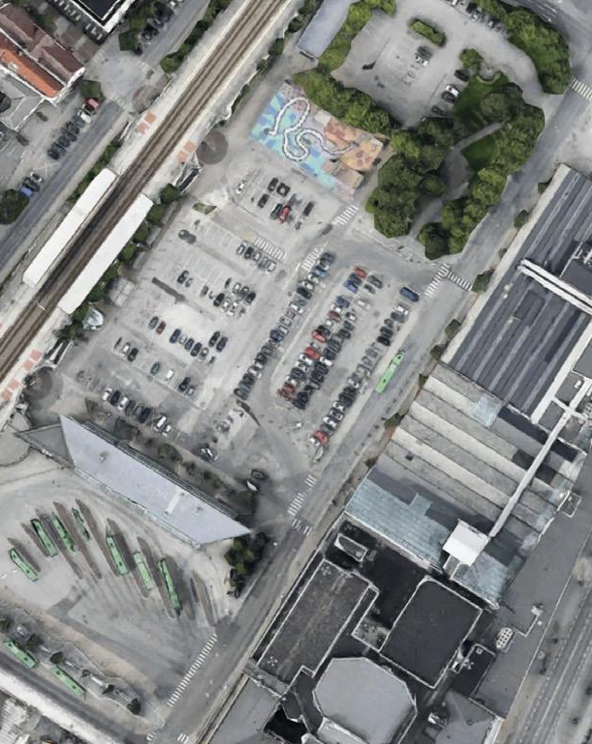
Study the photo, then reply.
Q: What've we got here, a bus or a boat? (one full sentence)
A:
Of the two, only a bus appears.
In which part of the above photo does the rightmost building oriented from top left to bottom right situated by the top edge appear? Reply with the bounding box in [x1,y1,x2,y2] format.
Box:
[48,0,112,46]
